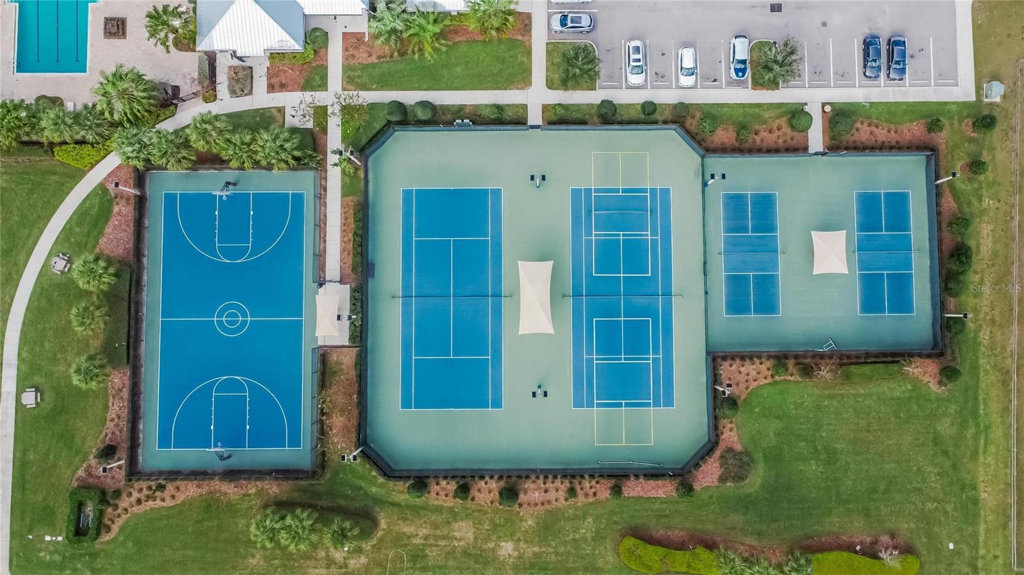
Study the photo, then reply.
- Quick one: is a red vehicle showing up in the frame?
No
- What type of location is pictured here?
sports ground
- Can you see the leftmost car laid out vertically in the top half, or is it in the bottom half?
top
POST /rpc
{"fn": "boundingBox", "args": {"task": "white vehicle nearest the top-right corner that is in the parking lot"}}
[729,35,751,80]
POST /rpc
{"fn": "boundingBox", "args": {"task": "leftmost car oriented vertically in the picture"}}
[625,40,647,86]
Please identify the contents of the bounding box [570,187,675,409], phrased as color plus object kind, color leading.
blue tennis court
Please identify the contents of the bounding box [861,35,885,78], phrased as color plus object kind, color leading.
blue car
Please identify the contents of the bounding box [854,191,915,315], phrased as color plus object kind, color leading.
blue sports court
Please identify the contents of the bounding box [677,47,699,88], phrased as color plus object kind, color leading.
white car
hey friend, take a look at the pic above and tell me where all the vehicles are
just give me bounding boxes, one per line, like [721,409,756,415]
[885,36,910,81]
[861,35,885,78]
[729,35,751,80]
[550,11,593,34]
[625,40,647,86]
[677,47,699,88]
